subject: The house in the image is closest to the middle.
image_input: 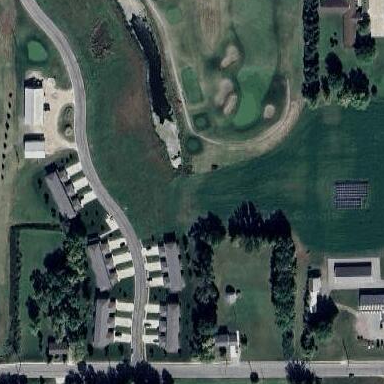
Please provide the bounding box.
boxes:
[158,242,184,291]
